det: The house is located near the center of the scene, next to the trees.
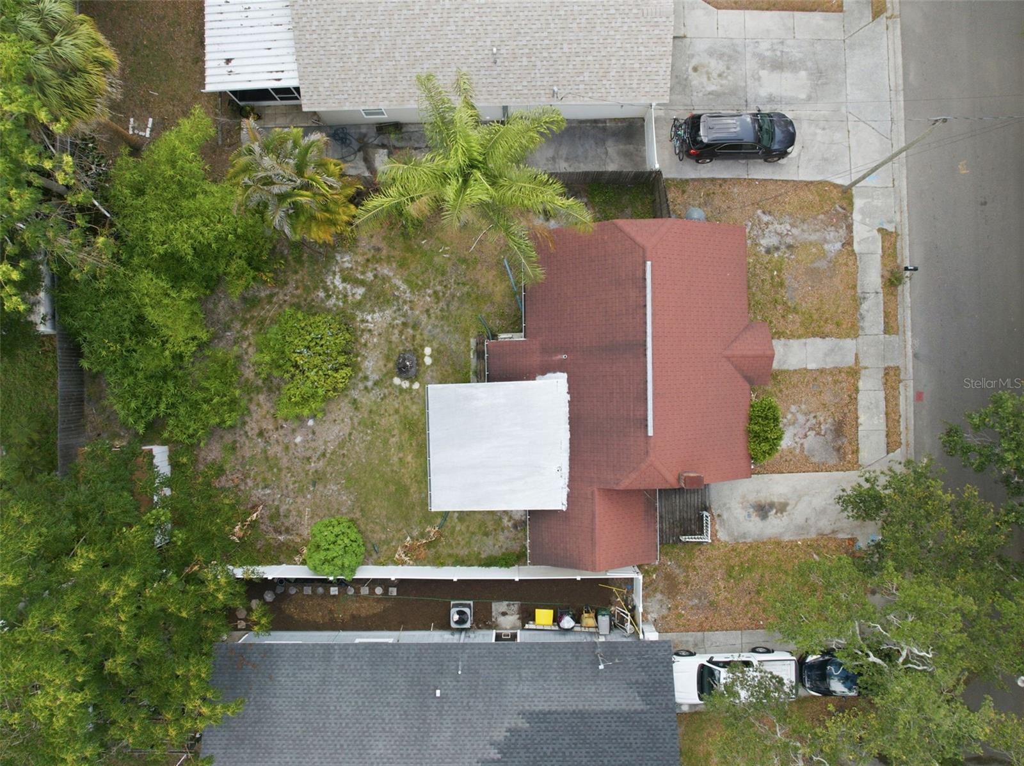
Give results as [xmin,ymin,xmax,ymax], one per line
[424,216,774,571]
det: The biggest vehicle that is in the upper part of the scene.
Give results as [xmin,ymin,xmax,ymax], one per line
[672,106,794,162]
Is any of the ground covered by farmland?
No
